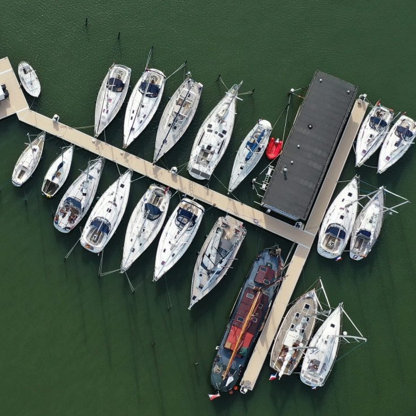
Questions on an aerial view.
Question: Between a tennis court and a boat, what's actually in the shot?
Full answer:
The image shows a boat.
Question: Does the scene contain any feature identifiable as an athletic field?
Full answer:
No, the frame has no athletic field in it.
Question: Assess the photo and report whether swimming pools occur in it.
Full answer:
No, there isn't any swimming pool down there.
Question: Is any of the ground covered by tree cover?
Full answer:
No, no tree cover is visible.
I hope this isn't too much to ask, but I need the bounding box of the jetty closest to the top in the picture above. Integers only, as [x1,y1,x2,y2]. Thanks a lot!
[303,99,369,233]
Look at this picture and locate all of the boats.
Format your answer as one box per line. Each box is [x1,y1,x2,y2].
[353,97,402,168]
[71,59,130,142]
[13,130,55,187]
[122,49,186,149]
[186,210,247,314]
[182,75,254,187]
[43,144,77,199]
[227,110,285,194]
[315,177,383,265]
[271,278,333,383]
[153,71,205,165]
[376,107,416,175]
[153,195,214,307]
[103,183,170,291]
[19,61,40,99]
[266,136,285,160]
[54,155,104,234]
[69,171,142,270]
[347,186,410,264]
[296,304,368,393]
